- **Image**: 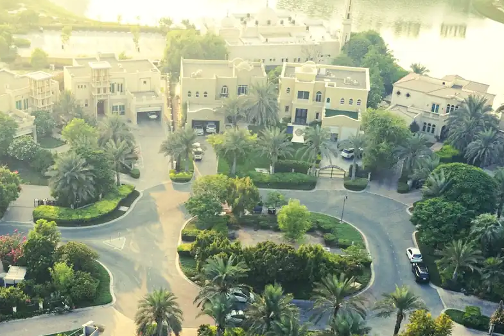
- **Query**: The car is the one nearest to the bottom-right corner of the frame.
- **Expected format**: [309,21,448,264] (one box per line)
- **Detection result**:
[410,262,432,281]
